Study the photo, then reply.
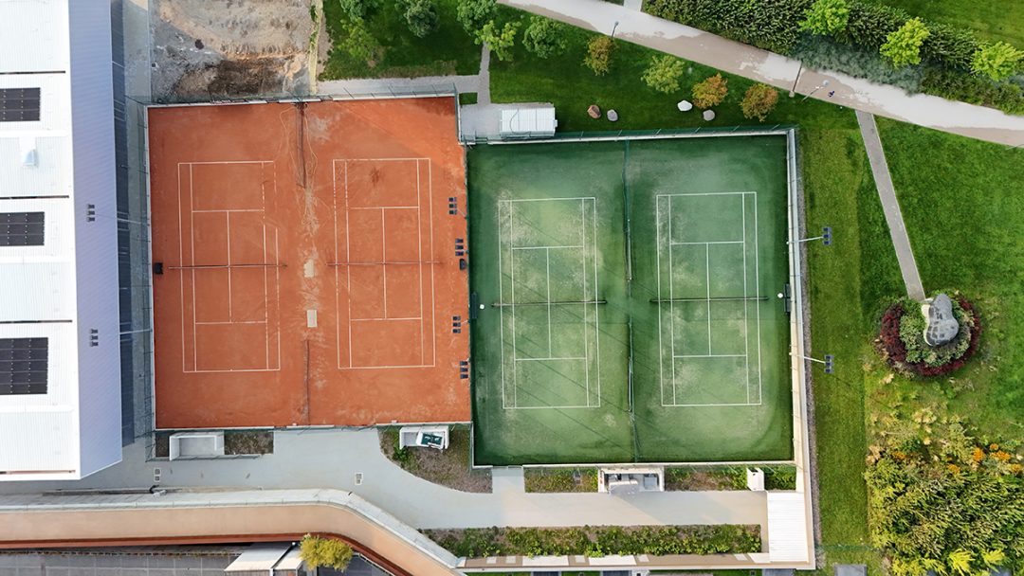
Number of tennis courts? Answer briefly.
four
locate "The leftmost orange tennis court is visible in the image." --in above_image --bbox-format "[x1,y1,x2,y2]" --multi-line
[151,100,307,428]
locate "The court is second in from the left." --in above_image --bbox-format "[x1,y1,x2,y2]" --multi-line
[302,96,471,425]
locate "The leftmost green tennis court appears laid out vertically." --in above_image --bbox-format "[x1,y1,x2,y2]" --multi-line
[467,140,633,467]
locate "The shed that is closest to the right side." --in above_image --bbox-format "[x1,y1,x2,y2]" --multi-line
[500,107,560,140]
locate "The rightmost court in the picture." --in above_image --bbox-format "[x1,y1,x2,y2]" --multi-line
[626,134,793,463]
